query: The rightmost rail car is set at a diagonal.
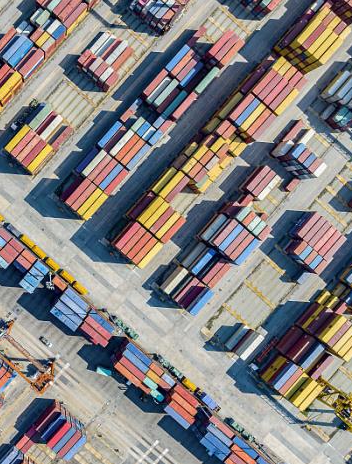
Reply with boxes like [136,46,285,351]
[242,431,258,447]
